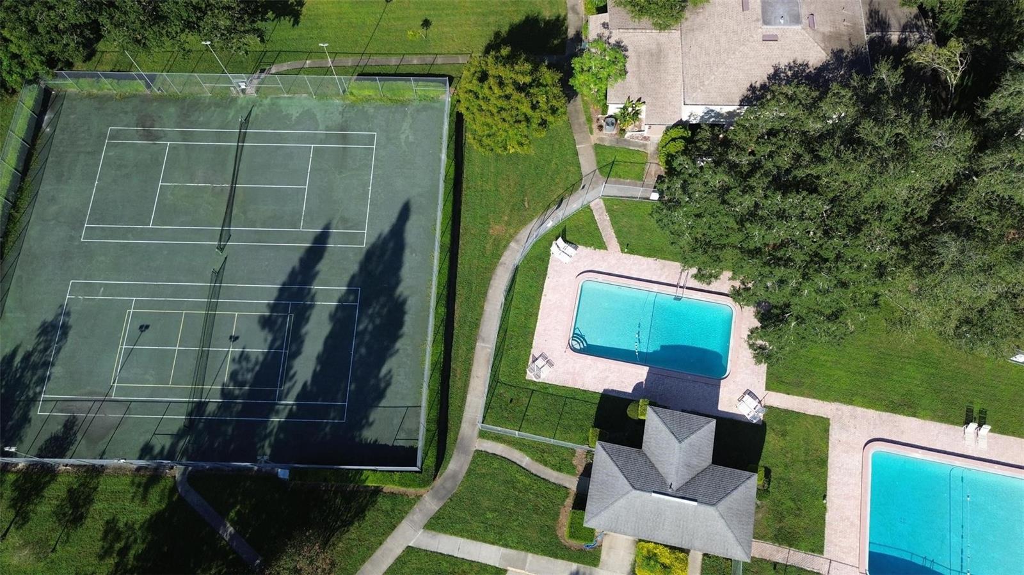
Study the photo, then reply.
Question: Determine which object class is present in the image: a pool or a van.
pool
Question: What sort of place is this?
sports ground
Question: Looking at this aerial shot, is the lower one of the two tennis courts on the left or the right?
left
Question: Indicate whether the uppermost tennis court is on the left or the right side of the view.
left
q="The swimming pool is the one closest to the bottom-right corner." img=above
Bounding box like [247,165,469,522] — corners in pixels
[859,442,1024,575]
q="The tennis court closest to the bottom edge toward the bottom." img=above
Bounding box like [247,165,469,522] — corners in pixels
[0,259,434,468]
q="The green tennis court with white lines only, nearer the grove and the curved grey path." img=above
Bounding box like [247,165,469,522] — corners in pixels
[8,95,446,268]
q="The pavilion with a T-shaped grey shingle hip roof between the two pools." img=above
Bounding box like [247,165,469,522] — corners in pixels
[584,409,759,561]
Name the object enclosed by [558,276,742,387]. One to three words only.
swimming pool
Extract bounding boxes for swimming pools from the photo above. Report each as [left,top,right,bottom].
[859,442,1024,575]
[558,276,742,387]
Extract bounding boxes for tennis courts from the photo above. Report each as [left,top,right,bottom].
[0,259,434,468]
[8,95,446,268]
